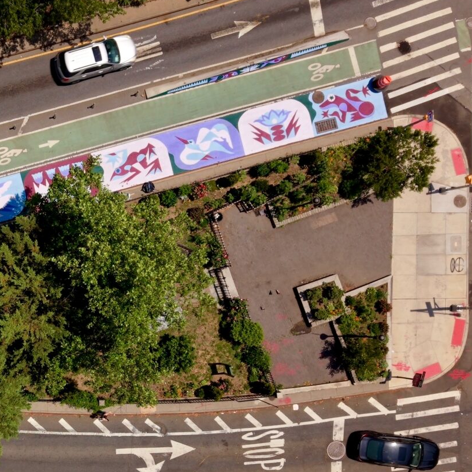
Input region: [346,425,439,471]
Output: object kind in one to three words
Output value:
car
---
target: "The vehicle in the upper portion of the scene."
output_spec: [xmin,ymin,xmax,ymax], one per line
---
[45,29,140,85]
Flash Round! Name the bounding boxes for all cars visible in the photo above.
[346,425,439,471]
[45,29,140,85]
